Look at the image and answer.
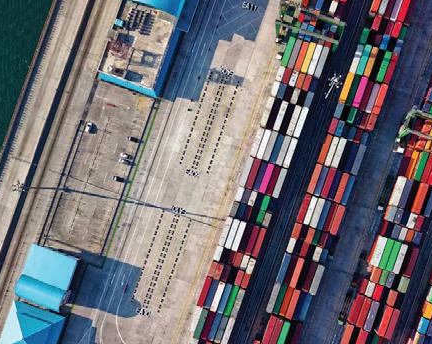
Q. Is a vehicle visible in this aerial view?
Yes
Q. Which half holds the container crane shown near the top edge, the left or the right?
right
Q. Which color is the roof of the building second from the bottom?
blue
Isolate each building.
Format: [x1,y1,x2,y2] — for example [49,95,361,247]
[93,0,210,101]
[11,243,85,311]
[0,299,66,344]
